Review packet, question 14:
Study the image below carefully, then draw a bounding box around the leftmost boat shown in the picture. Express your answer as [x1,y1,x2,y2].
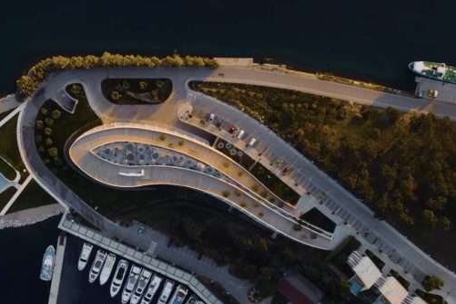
[38,246,52,283]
